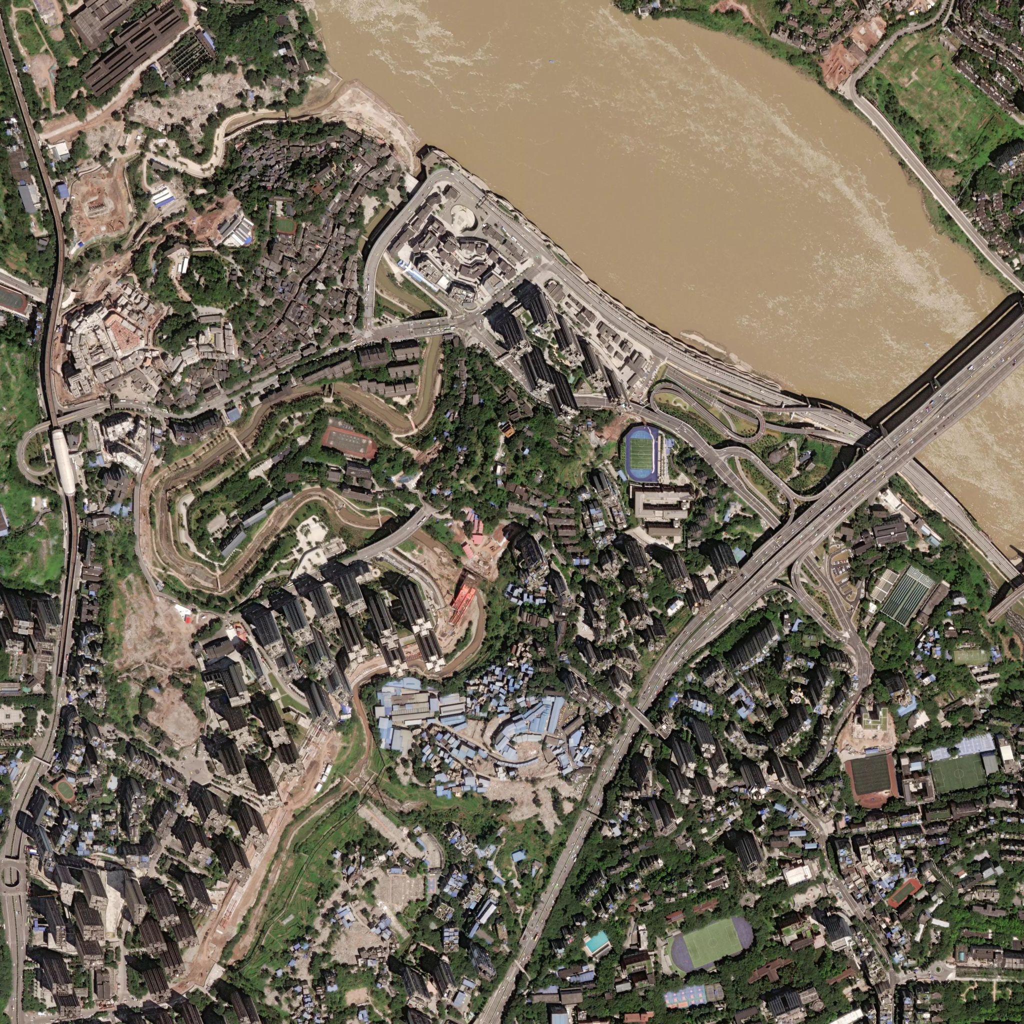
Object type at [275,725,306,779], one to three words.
building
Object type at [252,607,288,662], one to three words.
building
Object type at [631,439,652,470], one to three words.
sports field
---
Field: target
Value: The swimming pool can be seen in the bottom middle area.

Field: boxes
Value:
[582,932,611,958]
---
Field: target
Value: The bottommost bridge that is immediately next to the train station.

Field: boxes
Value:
[57,496,78,677]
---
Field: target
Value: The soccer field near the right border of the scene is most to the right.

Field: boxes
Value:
[932,754,987,794]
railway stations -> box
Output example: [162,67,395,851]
[42,428,75,498]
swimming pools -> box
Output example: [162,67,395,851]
[109,776,118,789]
[582,932,611,958]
